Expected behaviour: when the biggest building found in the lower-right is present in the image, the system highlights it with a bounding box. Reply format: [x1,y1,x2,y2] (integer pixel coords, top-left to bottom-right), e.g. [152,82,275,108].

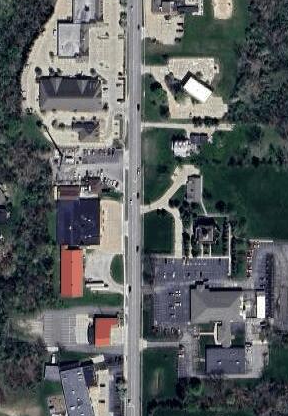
[191,285,266,375]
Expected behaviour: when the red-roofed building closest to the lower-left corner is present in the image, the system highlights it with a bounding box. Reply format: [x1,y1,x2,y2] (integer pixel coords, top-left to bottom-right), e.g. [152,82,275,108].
[94,317,118,348]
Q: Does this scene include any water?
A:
No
